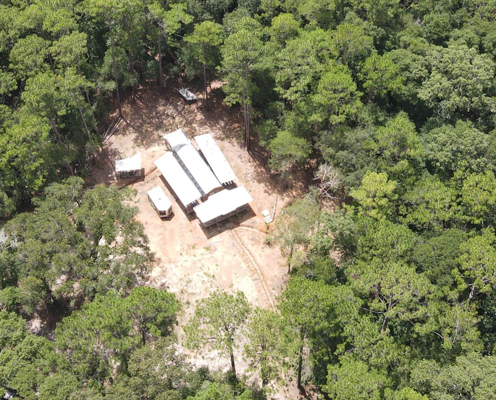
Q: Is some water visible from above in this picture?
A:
No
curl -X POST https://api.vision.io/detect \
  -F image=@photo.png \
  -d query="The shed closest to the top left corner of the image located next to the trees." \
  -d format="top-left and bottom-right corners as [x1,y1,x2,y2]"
[116,151,142,179]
